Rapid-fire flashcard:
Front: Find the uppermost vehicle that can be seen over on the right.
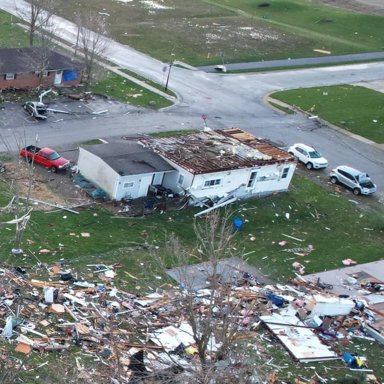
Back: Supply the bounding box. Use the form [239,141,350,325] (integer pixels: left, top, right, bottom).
[284,140,333,167]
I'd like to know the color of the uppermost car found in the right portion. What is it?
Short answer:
white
